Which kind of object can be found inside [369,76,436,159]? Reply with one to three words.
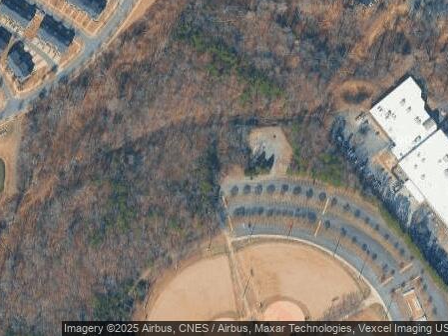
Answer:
building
